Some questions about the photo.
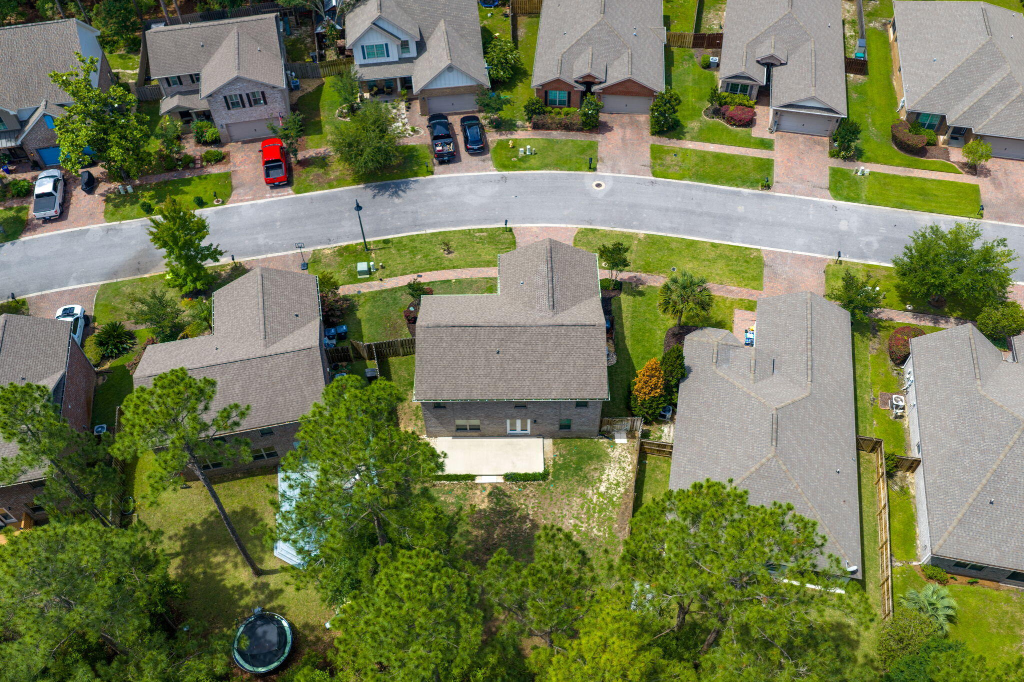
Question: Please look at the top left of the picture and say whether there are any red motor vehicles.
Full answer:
Yes, a red motor vehicle can be seen at the top left of the picture.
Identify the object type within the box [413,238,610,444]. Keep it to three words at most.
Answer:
house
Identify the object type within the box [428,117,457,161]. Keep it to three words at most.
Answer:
truck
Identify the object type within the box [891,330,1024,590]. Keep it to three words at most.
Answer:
house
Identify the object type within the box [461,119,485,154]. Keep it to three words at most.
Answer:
car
